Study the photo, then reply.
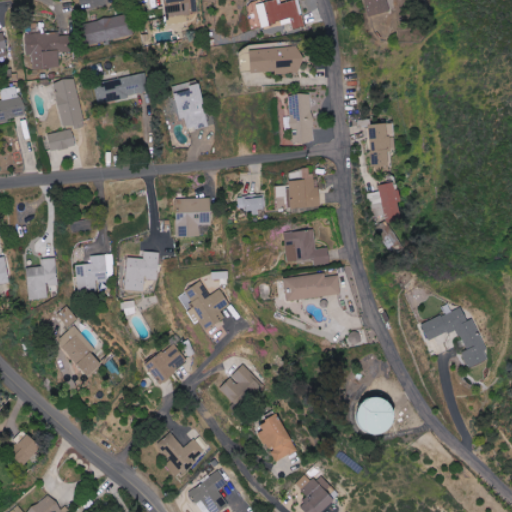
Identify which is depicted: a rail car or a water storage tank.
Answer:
water storage tank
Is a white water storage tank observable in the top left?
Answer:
No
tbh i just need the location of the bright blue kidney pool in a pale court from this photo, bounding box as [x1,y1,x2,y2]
[306,304,324,322]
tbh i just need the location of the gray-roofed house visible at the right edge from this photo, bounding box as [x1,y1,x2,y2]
[422,304,490,366]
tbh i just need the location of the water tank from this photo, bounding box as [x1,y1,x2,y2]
[357,398,394,434]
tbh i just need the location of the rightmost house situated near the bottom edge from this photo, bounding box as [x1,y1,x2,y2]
[297,464,339,512]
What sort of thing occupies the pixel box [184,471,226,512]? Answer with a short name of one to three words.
house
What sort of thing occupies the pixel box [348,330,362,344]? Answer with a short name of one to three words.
gazebo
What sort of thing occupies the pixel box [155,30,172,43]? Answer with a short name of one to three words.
swimming pool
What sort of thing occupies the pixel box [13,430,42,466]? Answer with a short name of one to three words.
house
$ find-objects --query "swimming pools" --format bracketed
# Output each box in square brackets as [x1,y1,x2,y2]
[132,315,148,338]
[34,94,44,116]
[82,330,97,347]
[306,304,324,322]
[173,122,188,144]
[155,30,172,43]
